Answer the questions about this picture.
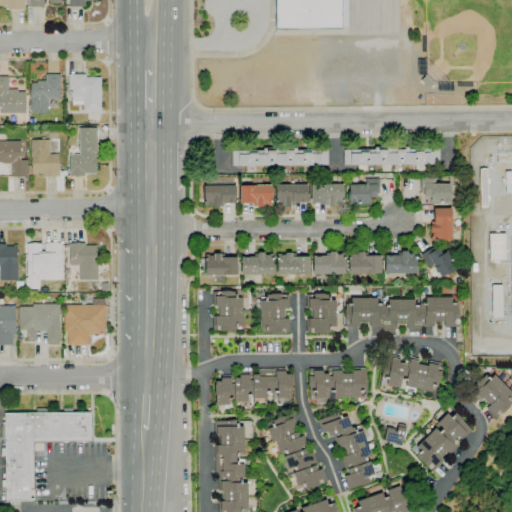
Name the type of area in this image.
residential area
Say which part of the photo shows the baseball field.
top right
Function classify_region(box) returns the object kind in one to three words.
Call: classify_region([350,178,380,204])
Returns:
house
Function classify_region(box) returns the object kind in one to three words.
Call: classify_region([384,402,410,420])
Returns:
swimming pool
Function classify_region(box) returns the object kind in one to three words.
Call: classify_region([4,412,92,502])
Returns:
building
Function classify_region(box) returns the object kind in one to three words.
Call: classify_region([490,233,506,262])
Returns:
shed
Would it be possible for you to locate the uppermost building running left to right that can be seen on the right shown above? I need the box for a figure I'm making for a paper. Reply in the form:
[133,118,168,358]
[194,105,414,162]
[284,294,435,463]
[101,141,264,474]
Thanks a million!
[276,0,344,28]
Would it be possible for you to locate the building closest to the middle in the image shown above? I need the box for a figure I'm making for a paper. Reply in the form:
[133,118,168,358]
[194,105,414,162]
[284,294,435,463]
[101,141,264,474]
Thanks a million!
[243,254,275,275]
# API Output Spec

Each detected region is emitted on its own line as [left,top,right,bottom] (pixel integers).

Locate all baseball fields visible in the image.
[426,0,512,84]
